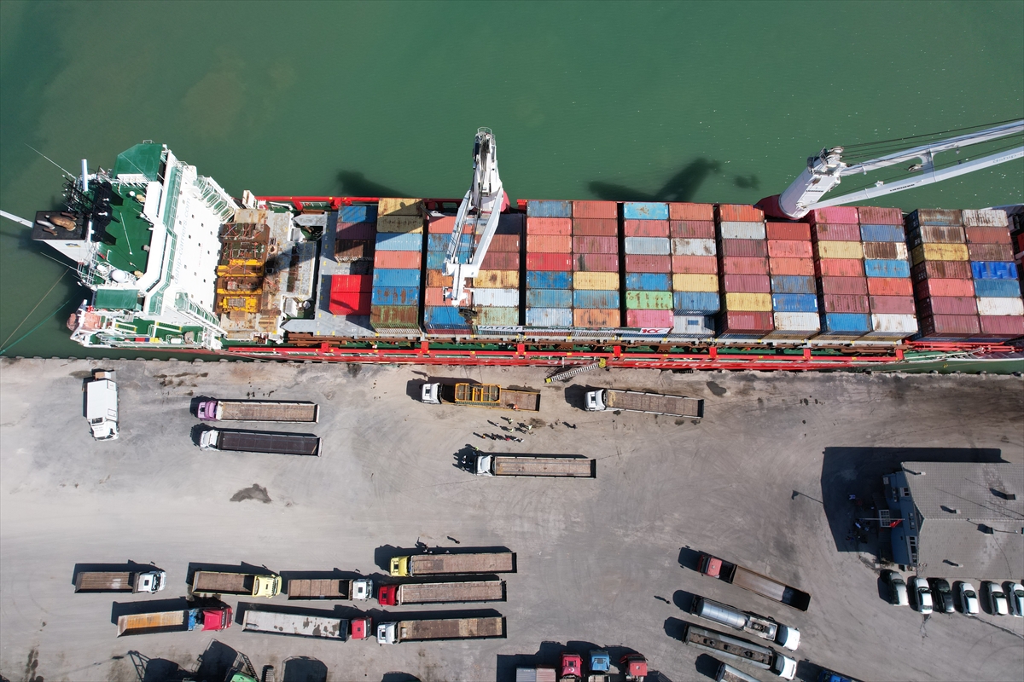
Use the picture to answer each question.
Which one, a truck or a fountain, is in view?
truck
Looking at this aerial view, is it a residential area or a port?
port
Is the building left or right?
right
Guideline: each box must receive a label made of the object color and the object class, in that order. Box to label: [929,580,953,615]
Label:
black car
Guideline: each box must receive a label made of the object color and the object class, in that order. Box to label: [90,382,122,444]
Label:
white truck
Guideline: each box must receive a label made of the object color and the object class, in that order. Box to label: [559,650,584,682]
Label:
red truck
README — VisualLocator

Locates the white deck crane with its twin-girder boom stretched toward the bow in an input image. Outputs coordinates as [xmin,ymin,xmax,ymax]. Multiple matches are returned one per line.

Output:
[759,105,1024,222]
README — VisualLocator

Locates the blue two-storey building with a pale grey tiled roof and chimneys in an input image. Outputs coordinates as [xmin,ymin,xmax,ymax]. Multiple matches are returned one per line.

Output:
[868,462,1024,582]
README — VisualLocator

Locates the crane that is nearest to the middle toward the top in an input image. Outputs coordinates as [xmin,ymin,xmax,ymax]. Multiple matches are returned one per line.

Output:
[444,136,519,346]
